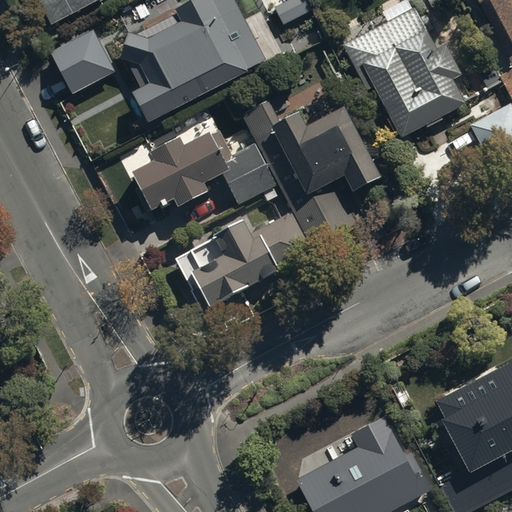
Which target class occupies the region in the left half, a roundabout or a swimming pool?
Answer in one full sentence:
It is a roundabout that can be seen in the left half.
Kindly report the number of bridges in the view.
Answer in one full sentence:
There are no bridges in this view.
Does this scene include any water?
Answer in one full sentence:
No, there is no water in the image.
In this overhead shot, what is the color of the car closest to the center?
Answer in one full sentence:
The car closest to the center is red.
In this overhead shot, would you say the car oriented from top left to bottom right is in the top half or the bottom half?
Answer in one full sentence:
Seen from above, the car oriented from top left to bottom right lies in the top half of the view.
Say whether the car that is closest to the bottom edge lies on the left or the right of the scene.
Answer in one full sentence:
The car that is closest to the bottom edge appears in the right half of the scene.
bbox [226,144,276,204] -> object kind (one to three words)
shed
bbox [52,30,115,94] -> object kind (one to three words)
building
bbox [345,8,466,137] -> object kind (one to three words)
house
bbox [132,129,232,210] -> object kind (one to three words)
house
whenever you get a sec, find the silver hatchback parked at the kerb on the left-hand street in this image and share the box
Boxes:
[24,118,48,150]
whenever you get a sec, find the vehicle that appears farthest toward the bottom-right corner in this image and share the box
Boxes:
[450,274,482,300]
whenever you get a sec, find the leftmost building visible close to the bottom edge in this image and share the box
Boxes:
[296,416,431,512]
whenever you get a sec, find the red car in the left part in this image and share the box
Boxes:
[186,198,216,220]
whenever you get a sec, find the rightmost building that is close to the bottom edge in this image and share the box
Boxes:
[436,360,512,512]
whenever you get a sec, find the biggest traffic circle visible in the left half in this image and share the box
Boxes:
[124,396,173,446]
